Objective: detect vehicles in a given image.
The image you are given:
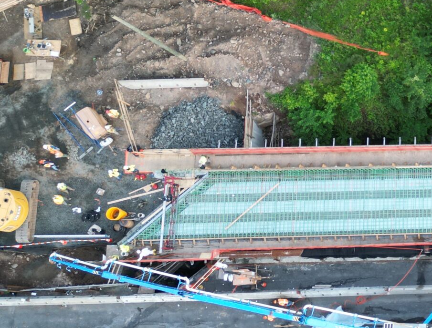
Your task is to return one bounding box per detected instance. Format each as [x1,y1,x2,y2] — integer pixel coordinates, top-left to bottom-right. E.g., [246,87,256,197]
[0,180,43,243]
[47,253,432,328]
